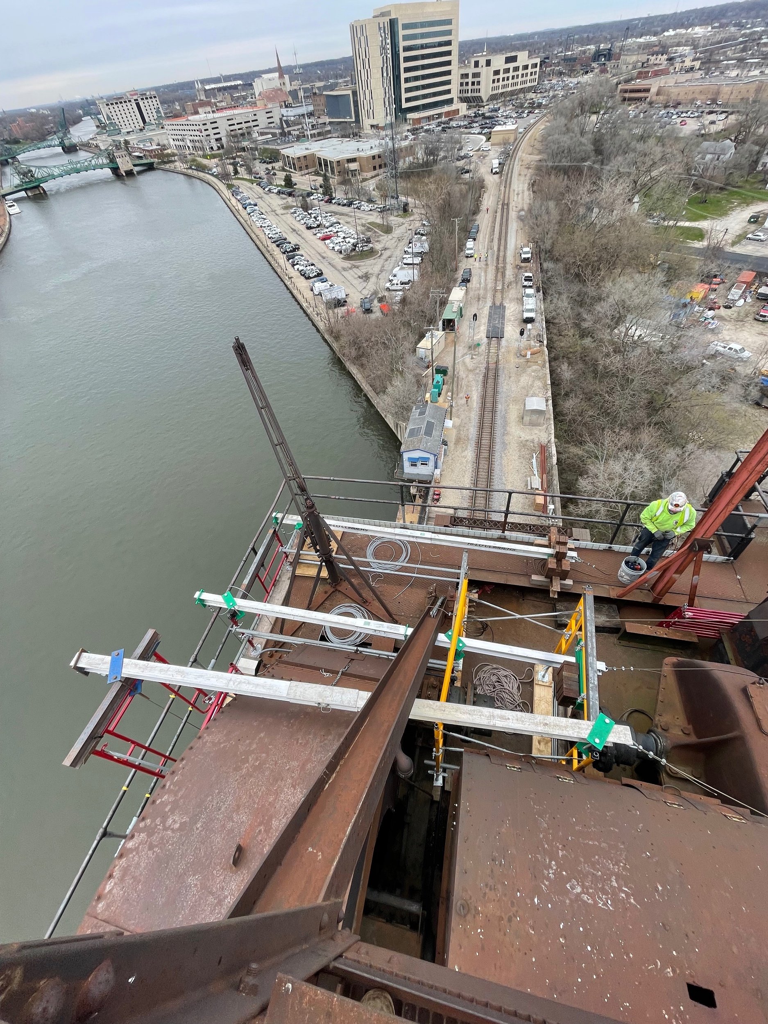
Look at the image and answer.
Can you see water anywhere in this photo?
Yes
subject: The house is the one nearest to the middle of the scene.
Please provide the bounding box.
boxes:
[395,398,446,485]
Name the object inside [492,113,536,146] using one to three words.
building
